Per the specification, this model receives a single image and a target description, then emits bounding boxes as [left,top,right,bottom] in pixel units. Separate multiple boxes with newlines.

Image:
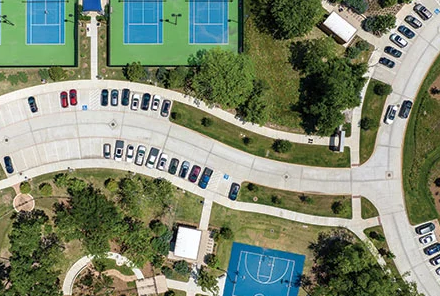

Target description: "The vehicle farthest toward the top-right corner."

[413,4,432,21]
